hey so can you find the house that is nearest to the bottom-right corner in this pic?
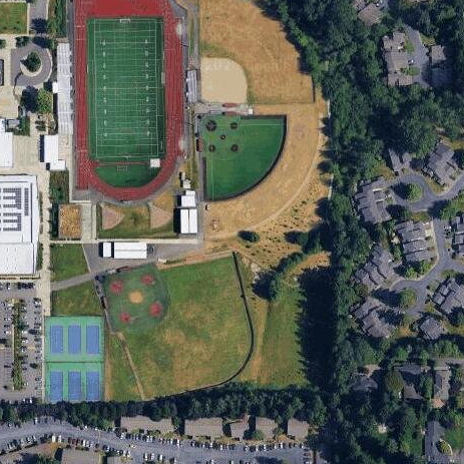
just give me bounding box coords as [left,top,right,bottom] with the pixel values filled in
[425,421,454,461]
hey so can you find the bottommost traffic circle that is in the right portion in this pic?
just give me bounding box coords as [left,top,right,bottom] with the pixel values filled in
[385,282,424,316]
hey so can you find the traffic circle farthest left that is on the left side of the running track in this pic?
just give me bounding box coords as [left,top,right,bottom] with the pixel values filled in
[12,40,51,86]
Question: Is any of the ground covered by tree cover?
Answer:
Yes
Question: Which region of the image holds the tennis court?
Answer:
bottom left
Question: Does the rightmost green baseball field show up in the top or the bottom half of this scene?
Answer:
top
